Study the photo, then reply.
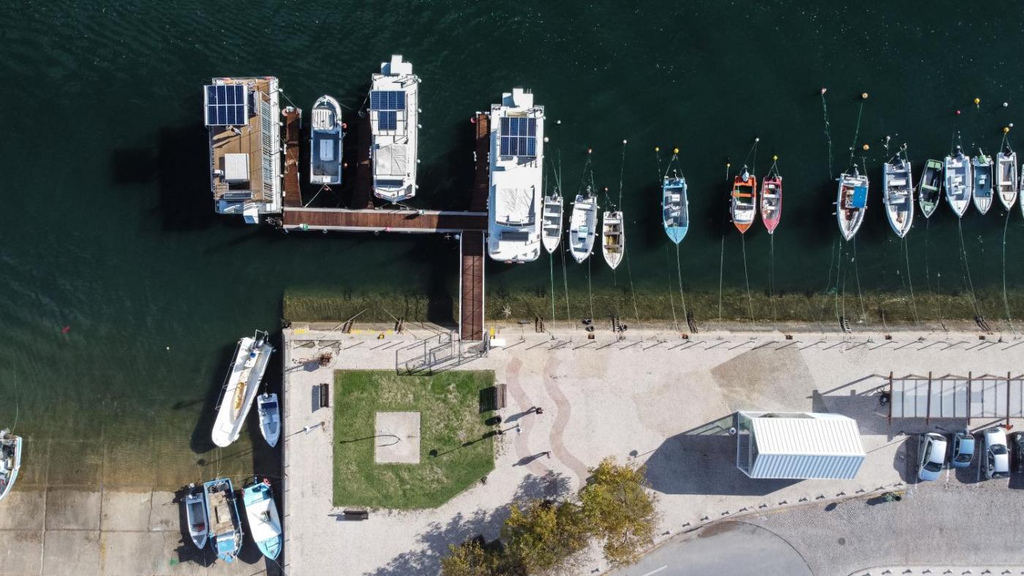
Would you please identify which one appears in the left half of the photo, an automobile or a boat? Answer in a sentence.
There is a boat in the left half of the photo.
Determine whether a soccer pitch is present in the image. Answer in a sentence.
No, I find no soccer pitch anywhere in the image.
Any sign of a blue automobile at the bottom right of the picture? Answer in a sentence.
Yes, a blue automobile appears at the bottom right of the picture.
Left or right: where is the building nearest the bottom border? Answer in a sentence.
The building nearest the bottom border appears in the right half of the scene.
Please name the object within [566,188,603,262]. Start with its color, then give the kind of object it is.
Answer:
white boat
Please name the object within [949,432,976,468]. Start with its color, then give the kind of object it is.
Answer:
blue car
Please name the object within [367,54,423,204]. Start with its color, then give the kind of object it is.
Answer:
white boat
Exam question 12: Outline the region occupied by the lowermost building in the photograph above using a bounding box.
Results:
[737,412,868,481]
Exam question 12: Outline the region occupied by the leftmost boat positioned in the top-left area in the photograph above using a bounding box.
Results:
[205,77,285,223]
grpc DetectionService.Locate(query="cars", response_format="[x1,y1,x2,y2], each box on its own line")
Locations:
[949,432,976,468]
[914,431,946,480]
[978,426,1008,478]
[1010,431,1024,484]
